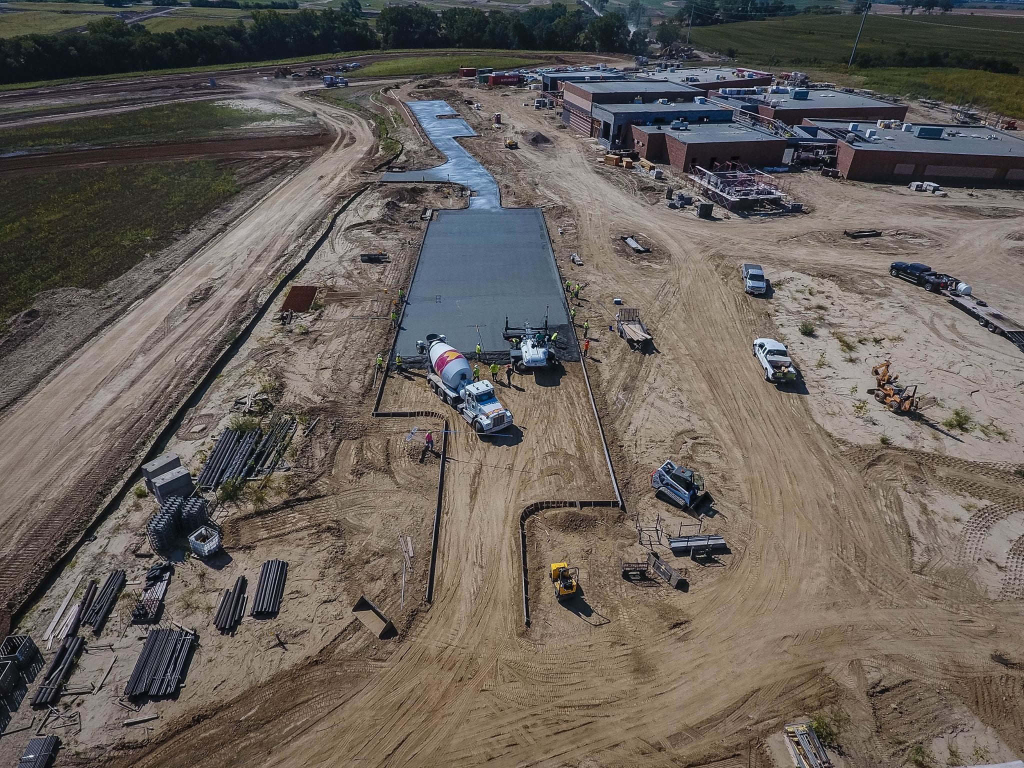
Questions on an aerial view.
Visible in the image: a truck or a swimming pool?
truck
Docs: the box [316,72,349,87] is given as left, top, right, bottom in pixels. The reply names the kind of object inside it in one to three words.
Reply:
vehicle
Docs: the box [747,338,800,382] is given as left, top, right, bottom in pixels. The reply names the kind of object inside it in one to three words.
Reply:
truck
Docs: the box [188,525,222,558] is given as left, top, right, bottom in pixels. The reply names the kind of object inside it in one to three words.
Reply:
storage tank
